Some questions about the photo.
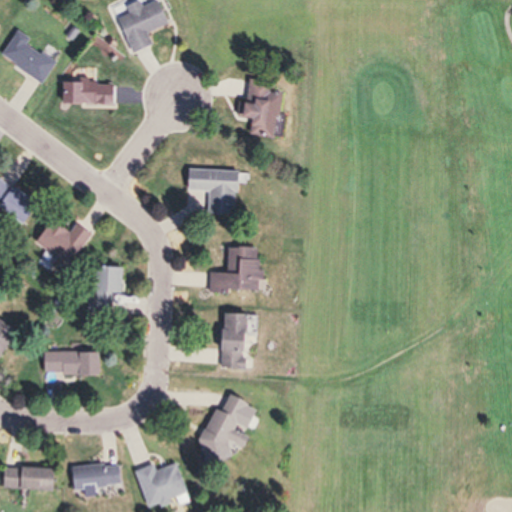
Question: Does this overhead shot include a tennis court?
No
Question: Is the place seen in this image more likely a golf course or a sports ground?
golf course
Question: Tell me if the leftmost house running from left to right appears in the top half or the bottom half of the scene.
bottom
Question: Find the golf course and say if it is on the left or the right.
right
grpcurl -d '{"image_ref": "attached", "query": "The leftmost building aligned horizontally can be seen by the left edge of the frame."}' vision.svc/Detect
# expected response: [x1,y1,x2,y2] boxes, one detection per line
[4,468,54,491]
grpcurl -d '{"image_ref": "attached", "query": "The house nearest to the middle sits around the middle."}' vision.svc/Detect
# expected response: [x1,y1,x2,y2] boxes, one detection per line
[209,248,265,292]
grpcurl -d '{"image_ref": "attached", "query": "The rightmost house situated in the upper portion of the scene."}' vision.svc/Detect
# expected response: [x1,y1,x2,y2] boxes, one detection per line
[244,78,286,138]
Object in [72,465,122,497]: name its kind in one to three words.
house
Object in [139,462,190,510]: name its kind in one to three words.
house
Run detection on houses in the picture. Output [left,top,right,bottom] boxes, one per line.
[196,395,259,460]
[188,168,250,213]
[37,223,90,253]
[4,468,54,491]
[72,465,122,497]
[62,67,112,104]
[44,352,101,376]
[2,30,55,82]
[96,265,124,298]
[222,313,247,369]
[139,462,190,510]
[244,78,286,138]
[0,176,34,218]
[209,248,265,292]
[117,0,168,51]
